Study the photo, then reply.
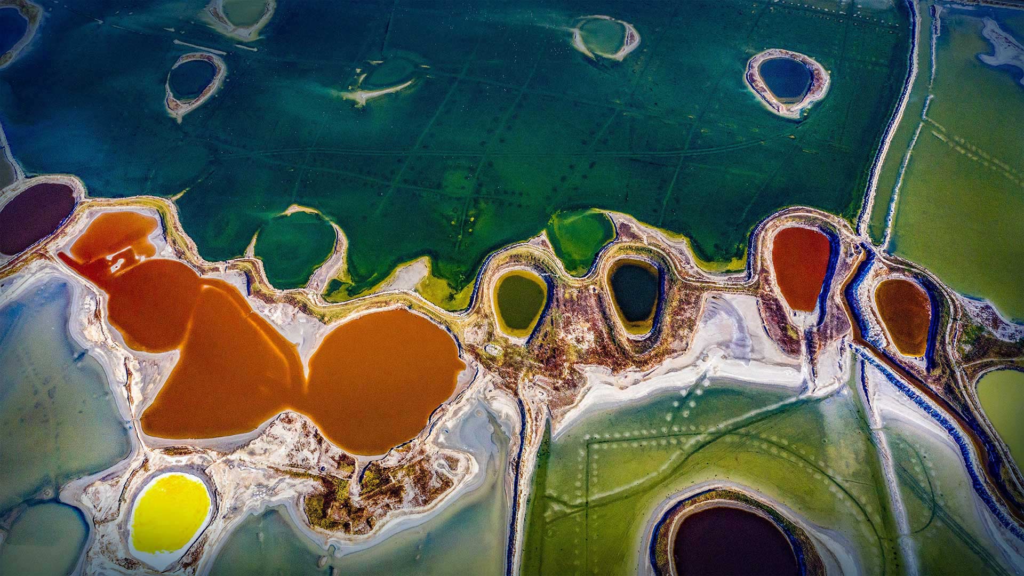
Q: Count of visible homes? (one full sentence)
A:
There are no homes in this view.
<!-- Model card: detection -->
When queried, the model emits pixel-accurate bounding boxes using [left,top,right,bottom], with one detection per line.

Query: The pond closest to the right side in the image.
[975,364,1024,475]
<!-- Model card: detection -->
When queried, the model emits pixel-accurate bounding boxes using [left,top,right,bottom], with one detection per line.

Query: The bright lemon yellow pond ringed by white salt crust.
[121,466,217,576]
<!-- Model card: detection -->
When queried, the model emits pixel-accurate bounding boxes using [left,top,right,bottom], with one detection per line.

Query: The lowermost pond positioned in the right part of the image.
[649,486,828,576]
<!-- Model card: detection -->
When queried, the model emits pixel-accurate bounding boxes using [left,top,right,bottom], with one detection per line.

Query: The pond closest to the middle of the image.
[489,264,557,348]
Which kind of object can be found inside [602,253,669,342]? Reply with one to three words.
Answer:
pond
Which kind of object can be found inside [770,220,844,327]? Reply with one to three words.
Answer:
pond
